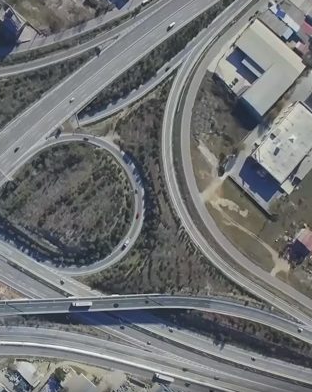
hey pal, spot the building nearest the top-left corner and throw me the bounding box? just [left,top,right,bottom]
[0,8,22,34]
